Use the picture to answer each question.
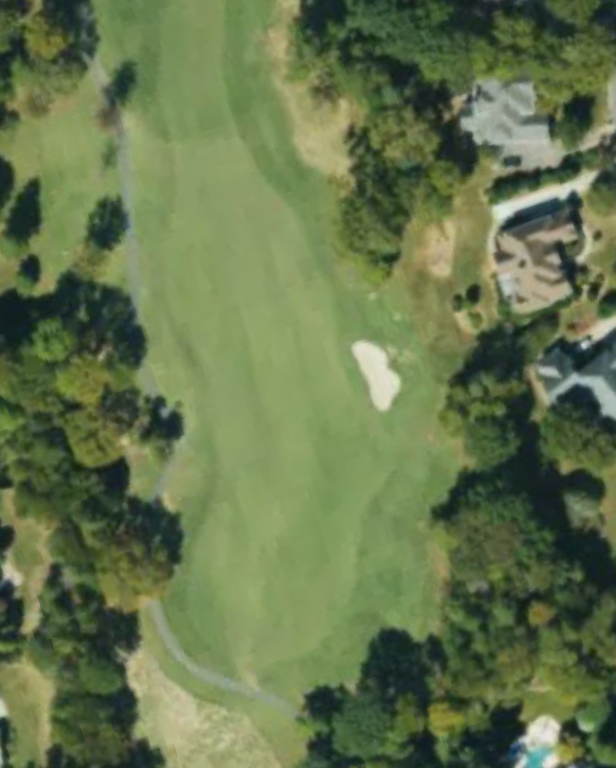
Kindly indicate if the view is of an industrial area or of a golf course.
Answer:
golf course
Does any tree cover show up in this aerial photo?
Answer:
Yes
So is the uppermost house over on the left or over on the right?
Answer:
right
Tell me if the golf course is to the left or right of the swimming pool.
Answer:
to the left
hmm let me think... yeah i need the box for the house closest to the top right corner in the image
[460,81,552,146]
